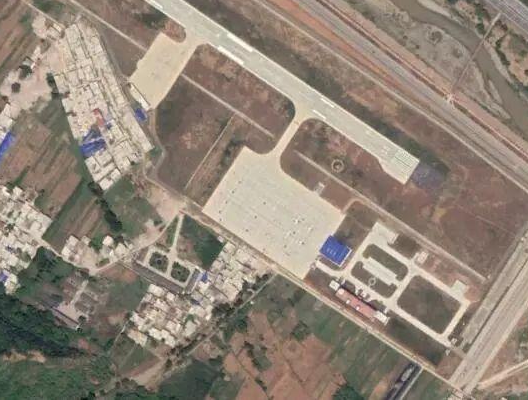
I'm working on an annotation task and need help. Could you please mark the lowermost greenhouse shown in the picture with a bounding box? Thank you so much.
[383,365,415,400]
